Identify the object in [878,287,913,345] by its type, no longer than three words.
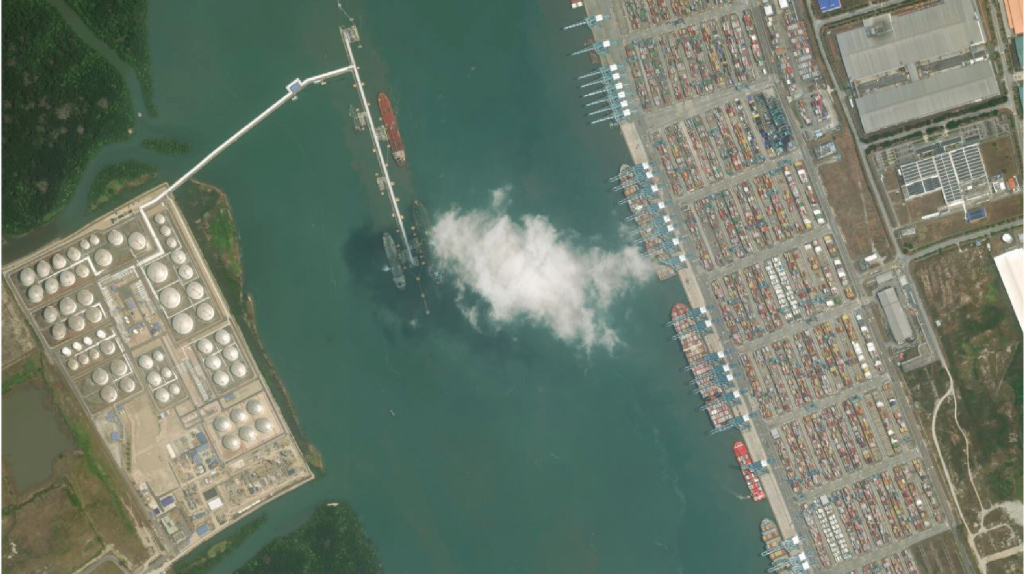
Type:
building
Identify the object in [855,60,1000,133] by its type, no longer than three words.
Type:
building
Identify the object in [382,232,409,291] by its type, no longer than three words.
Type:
ship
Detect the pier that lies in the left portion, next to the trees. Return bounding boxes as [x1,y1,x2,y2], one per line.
[139,2,427,311]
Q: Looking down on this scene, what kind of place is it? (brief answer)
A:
port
